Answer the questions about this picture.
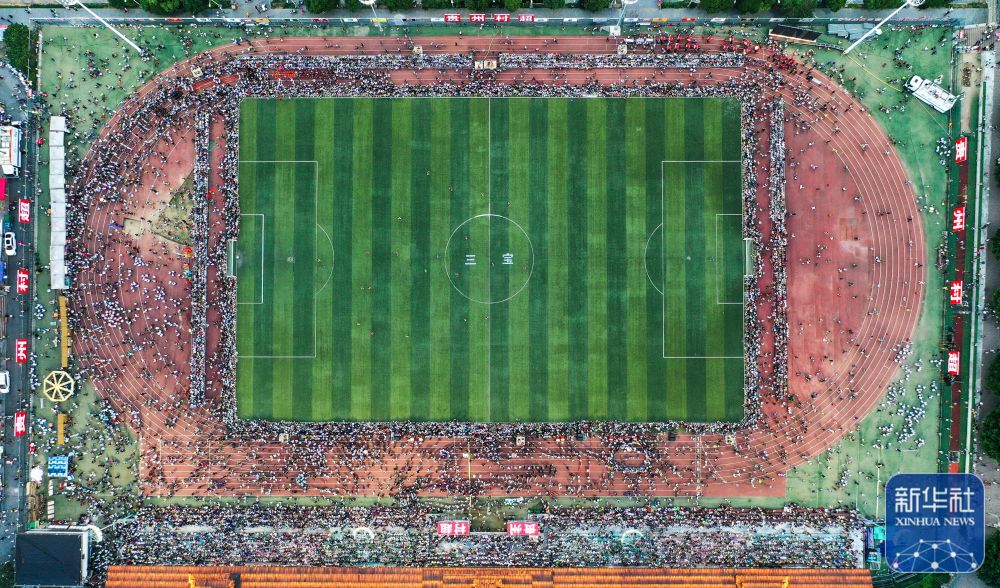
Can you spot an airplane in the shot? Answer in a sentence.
No, I can't see a single airplane in this photo.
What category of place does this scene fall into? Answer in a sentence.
What you see here is a sports ground.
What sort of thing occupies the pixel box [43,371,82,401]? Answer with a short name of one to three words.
gazebo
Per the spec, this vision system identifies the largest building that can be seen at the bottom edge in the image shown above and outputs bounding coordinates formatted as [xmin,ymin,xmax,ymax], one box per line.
[14,517,98,585]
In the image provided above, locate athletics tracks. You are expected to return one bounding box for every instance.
[62,35,924,497]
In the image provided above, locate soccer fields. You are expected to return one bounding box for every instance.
[235,95,746,423]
